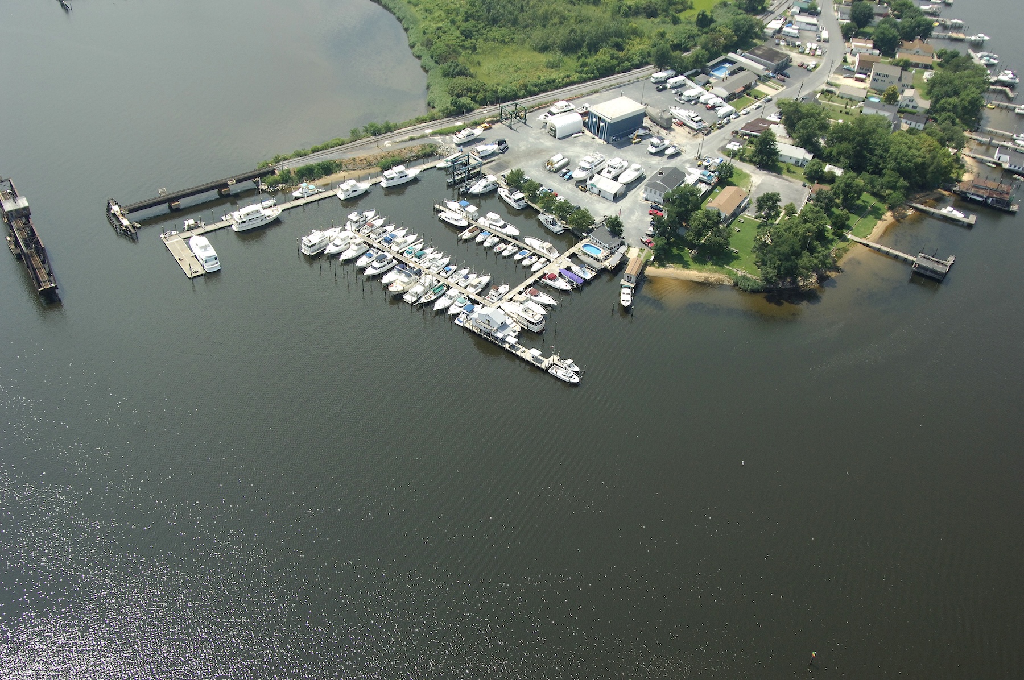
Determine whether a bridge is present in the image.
Yes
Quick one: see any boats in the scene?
Yes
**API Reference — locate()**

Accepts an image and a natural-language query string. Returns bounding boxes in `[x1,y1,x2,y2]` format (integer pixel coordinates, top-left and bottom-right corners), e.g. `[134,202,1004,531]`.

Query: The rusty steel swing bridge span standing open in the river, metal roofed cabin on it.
[0,178,63,304]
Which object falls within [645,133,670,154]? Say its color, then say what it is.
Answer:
white boat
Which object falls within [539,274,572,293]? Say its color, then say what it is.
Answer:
white boat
